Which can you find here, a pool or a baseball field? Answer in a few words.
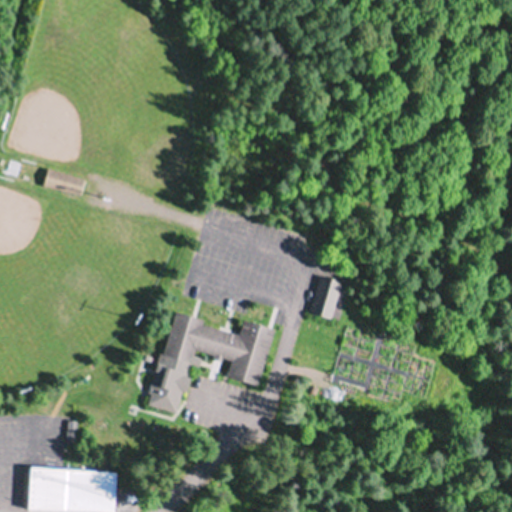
baseball field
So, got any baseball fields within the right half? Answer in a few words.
No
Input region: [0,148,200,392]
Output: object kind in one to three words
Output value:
baseball field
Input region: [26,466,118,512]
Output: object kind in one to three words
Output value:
building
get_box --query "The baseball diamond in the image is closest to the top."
[4,0,196,212]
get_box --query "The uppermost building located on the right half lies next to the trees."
[314,276,342,320]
